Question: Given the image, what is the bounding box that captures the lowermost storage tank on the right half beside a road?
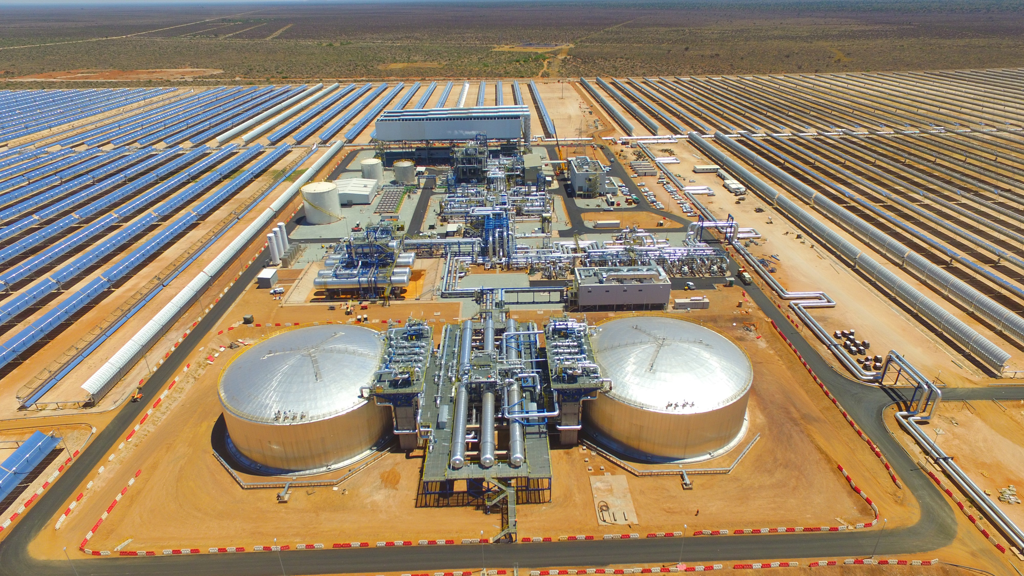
[577,312,753,468]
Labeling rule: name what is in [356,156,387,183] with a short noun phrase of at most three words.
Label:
water tank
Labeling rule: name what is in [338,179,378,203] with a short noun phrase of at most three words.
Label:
shed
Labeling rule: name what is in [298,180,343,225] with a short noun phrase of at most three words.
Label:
water tank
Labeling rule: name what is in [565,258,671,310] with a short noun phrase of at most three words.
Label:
building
